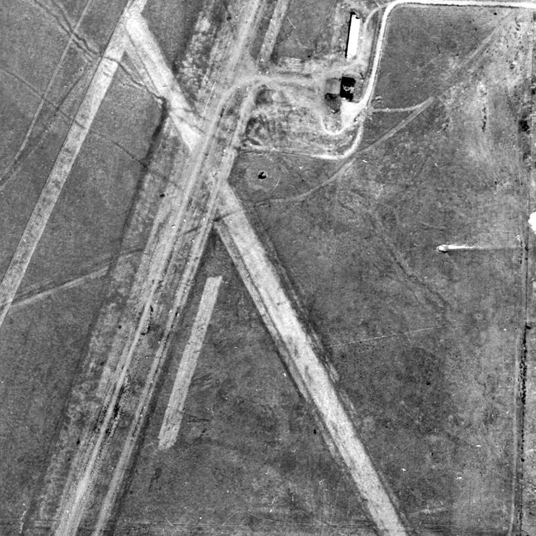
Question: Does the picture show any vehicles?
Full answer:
No, the photo shows no vehicle.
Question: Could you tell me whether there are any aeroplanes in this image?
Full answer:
No, the frame has no aeroplane in it.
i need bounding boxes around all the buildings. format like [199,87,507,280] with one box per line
[340,78,355,101]
[326,79,340,94]
[347,13,361,57]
